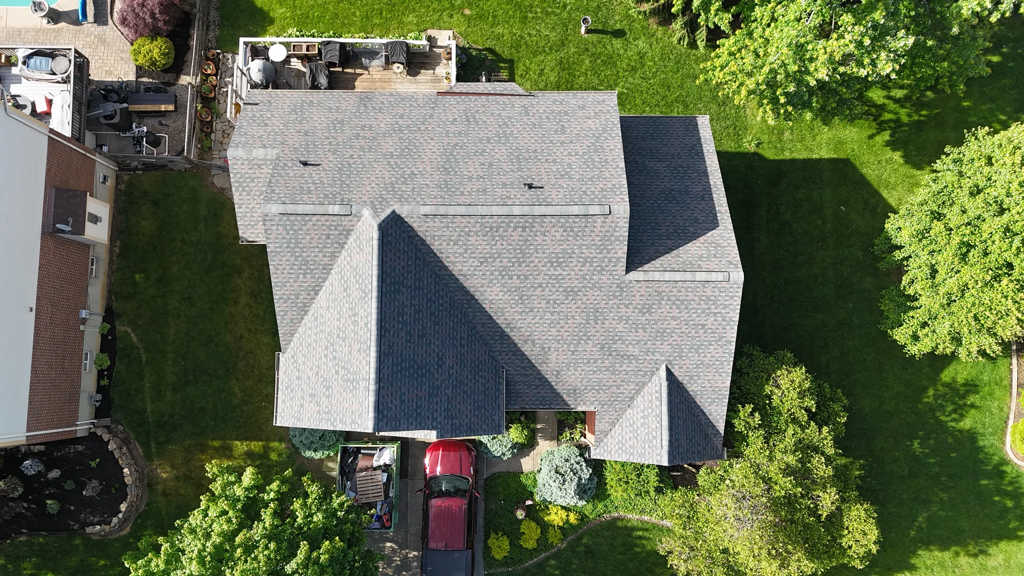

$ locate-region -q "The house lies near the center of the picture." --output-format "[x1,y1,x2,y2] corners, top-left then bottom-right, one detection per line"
[229,82,744,467]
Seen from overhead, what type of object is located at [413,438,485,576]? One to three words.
truck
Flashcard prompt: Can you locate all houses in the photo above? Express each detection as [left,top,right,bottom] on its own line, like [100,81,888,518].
[229,82,744,467]
[0,96,123,448]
